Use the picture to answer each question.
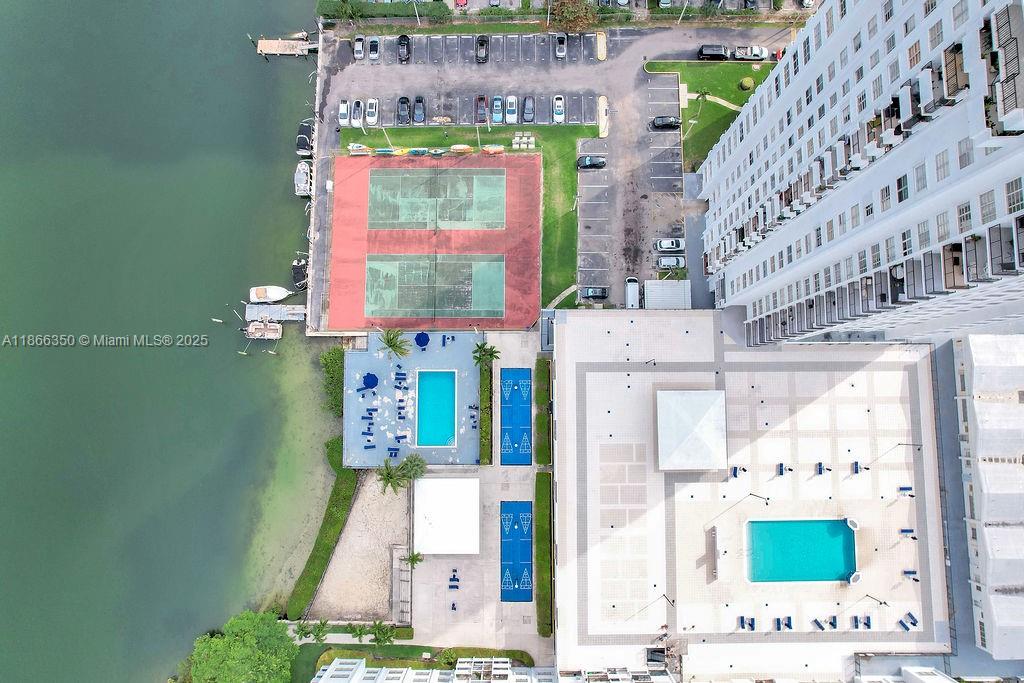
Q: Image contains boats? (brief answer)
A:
Yes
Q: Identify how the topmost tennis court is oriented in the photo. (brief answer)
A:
from left to right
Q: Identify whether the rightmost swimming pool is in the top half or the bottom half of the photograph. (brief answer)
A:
bottom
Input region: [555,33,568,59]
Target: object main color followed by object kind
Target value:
gray vehicle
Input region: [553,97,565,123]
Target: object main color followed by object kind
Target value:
white vehicle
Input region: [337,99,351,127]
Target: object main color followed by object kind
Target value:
white car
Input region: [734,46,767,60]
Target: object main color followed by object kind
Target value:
white vehicle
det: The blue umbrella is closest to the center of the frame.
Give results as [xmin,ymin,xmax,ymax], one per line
[414,332,430,347]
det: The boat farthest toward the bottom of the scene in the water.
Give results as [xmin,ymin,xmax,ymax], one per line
[242,322,282,339]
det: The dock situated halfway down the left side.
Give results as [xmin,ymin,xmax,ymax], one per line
[245,303,307,322]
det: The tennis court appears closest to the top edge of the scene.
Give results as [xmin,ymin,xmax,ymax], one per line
[332,154,541,243]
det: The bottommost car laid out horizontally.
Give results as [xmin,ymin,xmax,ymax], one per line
[581,287,608,299]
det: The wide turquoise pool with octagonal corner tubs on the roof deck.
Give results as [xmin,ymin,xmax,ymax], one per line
[744,517,861,585]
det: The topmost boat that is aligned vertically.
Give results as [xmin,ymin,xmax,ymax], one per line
[296,123,311,156]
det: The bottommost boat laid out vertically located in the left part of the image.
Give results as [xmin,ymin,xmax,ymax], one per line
[292,259,306,288]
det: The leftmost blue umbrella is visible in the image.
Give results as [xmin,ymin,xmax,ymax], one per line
[363,373,379,389]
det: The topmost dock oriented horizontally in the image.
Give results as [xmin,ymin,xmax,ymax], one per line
[257,38,317,58]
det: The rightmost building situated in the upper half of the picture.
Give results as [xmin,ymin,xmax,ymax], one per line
[699,0,1024,350]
